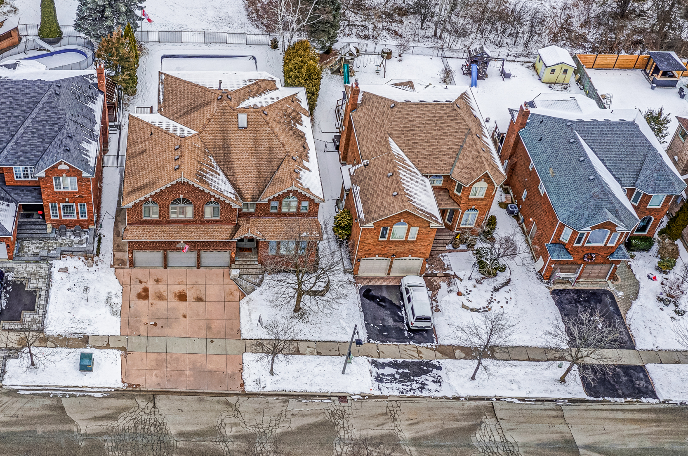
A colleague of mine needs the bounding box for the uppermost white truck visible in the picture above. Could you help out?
[403,274,437,334]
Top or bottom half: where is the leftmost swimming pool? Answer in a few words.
top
